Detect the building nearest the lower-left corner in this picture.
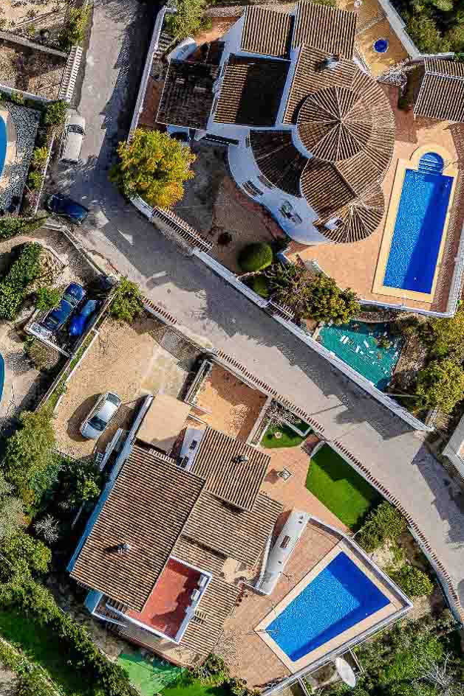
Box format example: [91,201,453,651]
[65,392,284,668]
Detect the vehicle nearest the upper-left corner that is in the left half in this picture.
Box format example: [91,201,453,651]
[58,112,88,166]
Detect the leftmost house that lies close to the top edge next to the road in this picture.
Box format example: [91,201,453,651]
[148,1,396,249]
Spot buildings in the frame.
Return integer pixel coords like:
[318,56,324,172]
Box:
[431,420,464,487]
[65,392,284,668]
[397,56,464,131]
[148,1,396,249]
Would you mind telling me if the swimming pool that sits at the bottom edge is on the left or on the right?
right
